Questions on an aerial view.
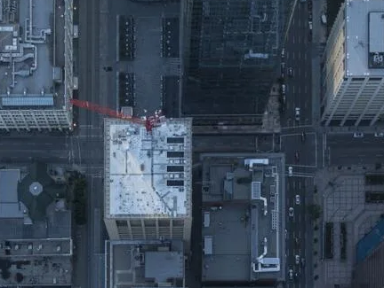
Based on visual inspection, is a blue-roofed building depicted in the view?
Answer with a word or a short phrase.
Yes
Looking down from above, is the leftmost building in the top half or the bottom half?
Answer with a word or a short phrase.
bottom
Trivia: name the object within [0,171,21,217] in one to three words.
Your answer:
building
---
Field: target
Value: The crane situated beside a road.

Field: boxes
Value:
[72,95,169,126]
